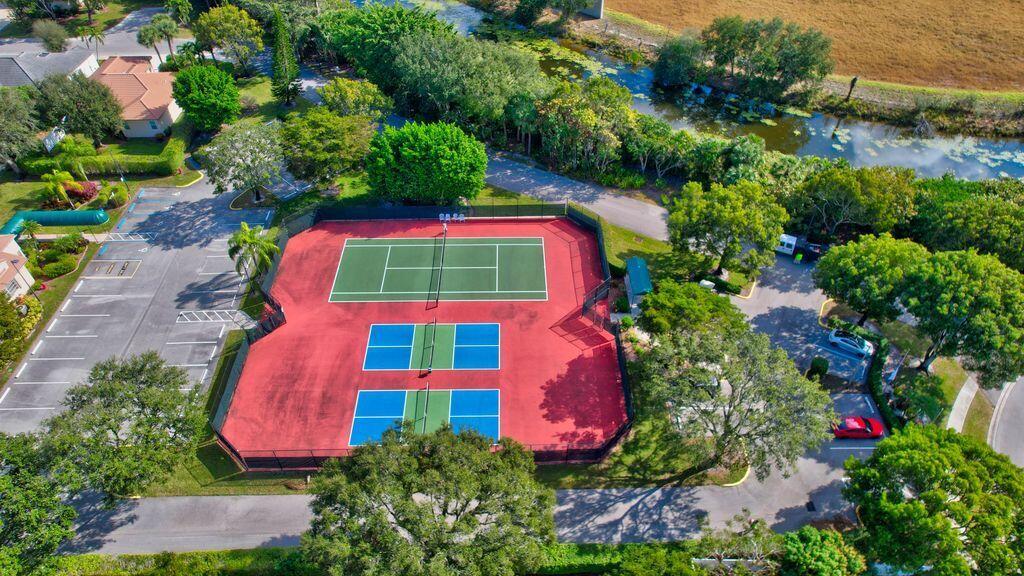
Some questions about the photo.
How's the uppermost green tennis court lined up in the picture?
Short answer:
from left to right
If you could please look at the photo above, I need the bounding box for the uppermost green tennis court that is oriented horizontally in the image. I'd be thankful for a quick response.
[329,237,548,301]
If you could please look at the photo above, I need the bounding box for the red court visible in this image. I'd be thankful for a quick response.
[217,215,631,471]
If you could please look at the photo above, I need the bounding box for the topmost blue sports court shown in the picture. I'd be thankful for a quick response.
[363,323,500,370]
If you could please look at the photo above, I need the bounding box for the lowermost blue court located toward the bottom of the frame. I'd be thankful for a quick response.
[348,389,500,446]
